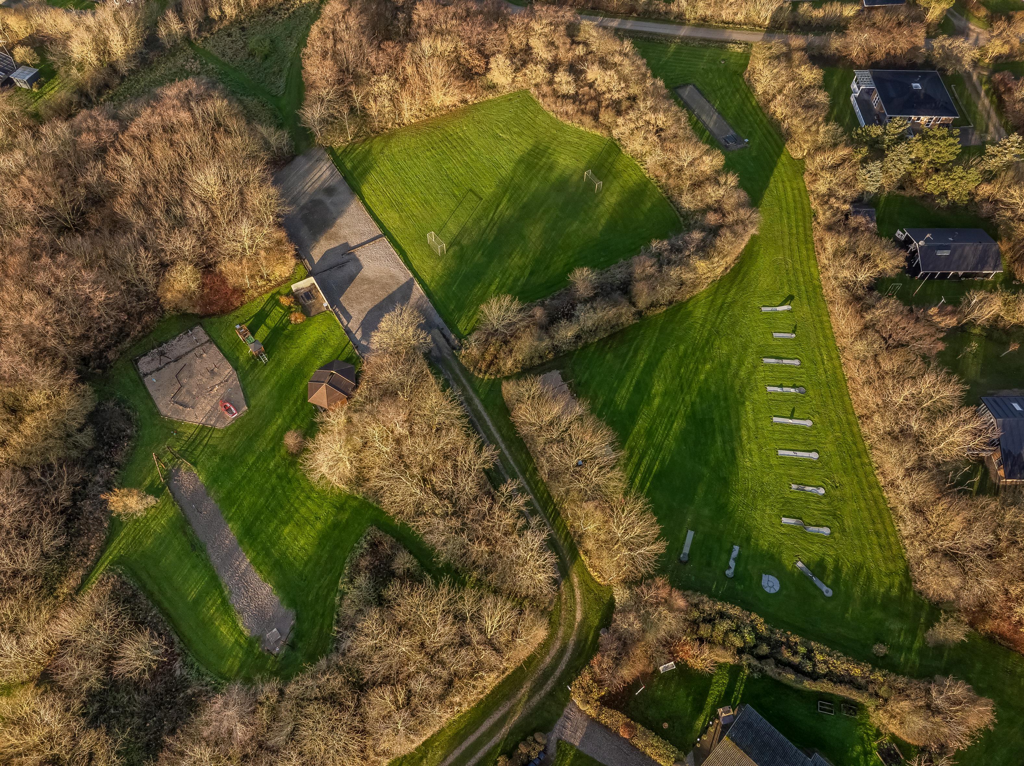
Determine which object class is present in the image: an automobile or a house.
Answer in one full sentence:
Visible in the photo is a house.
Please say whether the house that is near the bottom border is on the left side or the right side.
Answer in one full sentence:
It is on the right.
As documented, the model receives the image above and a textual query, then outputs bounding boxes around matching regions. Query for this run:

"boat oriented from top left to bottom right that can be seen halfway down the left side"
[219,399,237,418]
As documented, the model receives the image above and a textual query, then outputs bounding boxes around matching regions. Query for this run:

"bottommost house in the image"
[701,703,829,766]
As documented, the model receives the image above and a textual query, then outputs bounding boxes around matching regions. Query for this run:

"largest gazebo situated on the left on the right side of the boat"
[308,360,355,413]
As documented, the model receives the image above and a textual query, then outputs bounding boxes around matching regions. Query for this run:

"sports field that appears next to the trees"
[325,90,683,336]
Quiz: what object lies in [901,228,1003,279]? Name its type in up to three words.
house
